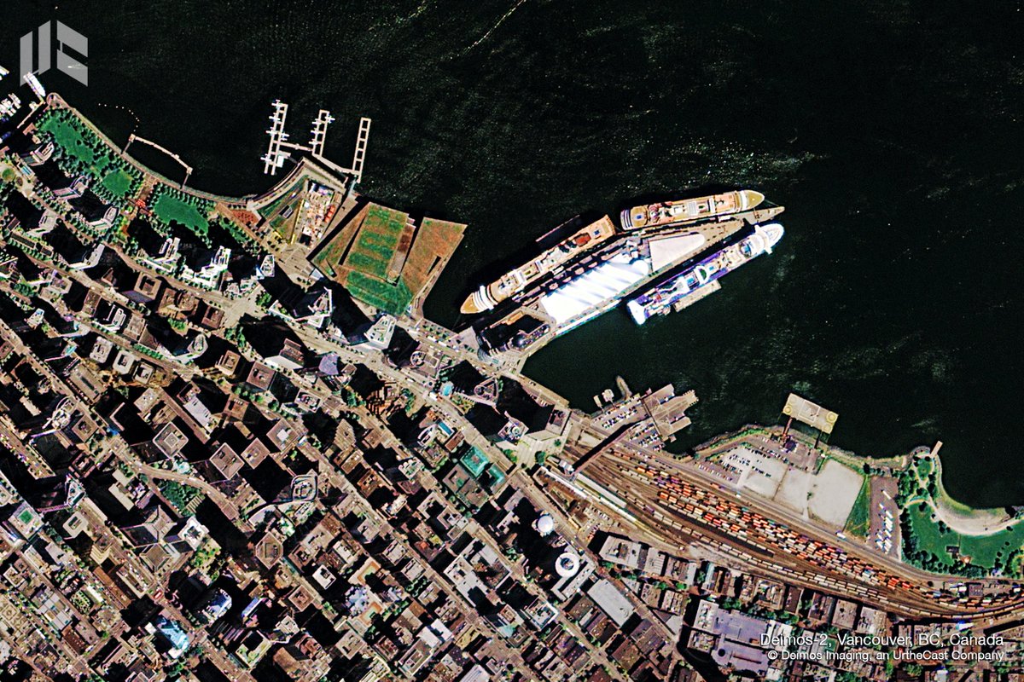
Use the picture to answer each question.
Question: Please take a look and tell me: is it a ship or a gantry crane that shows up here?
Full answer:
The image shows a ship.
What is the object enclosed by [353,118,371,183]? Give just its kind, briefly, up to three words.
pier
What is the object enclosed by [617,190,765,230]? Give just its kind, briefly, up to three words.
ship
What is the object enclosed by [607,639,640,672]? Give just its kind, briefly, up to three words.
building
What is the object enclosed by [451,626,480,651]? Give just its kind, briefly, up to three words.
building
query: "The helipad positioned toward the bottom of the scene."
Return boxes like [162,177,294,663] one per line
[782,393,838,434]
